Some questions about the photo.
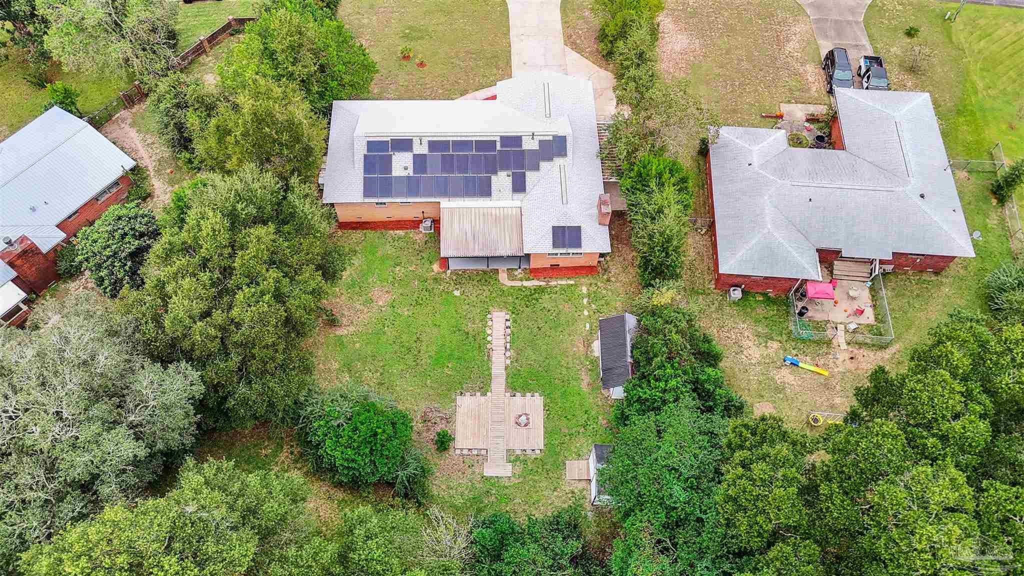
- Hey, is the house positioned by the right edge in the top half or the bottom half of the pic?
top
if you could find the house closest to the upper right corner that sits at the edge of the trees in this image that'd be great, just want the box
[705,88,976,294]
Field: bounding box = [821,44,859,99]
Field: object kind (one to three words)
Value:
car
